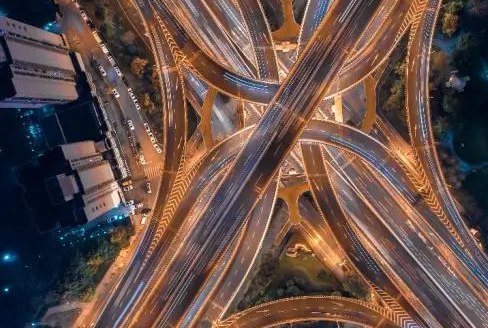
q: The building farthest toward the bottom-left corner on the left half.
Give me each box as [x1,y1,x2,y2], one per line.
[3,141,125,247]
